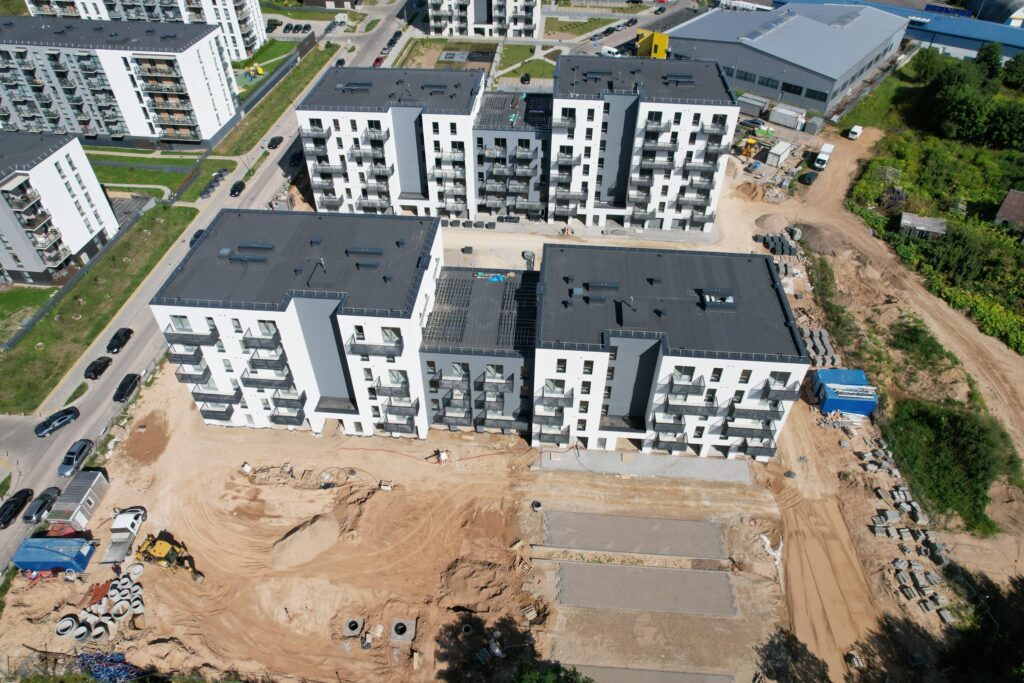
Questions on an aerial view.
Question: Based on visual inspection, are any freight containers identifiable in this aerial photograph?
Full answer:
Yes, there is a freight container in the image.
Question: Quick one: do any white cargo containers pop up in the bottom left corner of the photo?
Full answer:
No, no white cargo container appears in the bottom left corner of the photo.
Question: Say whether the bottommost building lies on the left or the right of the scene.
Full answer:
The bottommost building appears in the left half of the scene.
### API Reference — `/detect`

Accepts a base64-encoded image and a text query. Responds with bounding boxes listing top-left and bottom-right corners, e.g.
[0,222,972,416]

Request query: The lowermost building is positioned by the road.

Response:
[47,472,111,536]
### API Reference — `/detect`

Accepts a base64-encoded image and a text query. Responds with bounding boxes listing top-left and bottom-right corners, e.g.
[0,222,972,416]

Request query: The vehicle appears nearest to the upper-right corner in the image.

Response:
[848,123,861,139]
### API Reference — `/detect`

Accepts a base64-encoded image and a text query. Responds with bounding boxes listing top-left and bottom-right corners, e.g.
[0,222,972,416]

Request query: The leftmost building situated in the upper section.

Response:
[0,132,118,289]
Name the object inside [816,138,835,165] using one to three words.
vehicle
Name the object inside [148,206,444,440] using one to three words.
building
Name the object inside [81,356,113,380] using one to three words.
car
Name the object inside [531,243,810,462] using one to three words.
building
